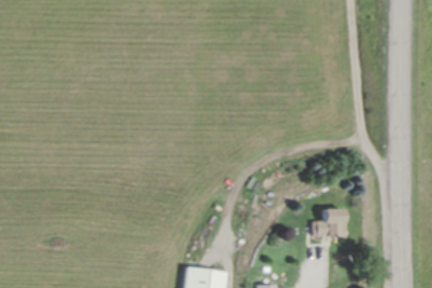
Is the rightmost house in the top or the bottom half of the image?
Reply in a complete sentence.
The rightmost house is in the bottom half of the image.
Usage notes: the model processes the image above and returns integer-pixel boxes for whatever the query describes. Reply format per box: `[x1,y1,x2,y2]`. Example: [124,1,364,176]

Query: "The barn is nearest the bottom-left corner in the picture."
[185,268,230,288]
